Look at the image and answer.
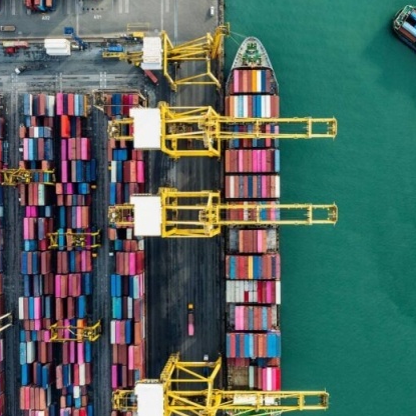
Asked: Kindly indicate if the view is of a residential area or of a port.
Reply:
port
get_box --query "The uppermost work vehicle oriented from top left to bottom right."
[62,24,88,54]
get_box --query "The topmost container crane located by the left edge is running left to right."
[5,168,63,185]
